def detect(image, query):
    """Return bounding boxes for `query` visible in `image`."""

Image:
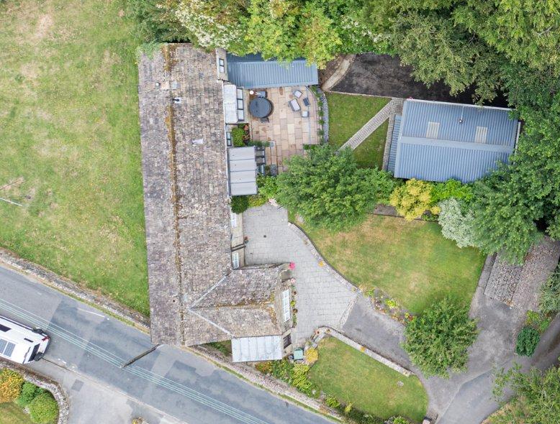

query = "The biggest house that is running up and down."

[137,38,290,350]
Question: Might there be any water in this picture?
No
